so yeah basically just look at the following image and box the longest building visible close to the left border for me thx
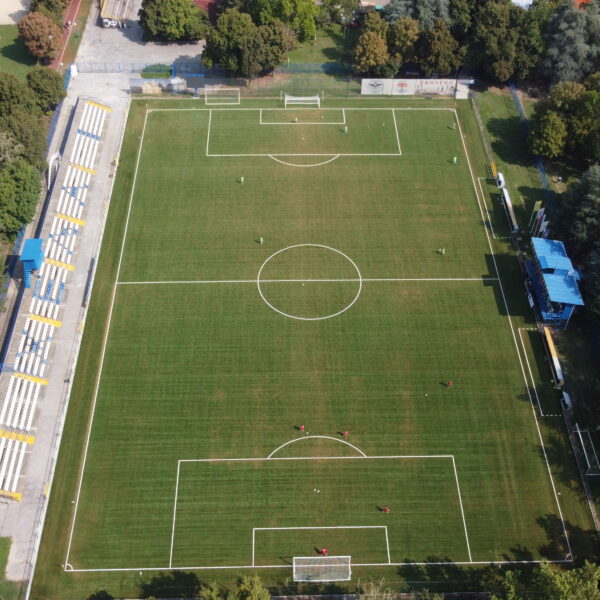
[19,236,45,294]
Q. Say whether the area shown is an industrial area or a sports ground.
sports ground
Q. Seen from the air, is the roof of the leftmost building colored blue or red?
blue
